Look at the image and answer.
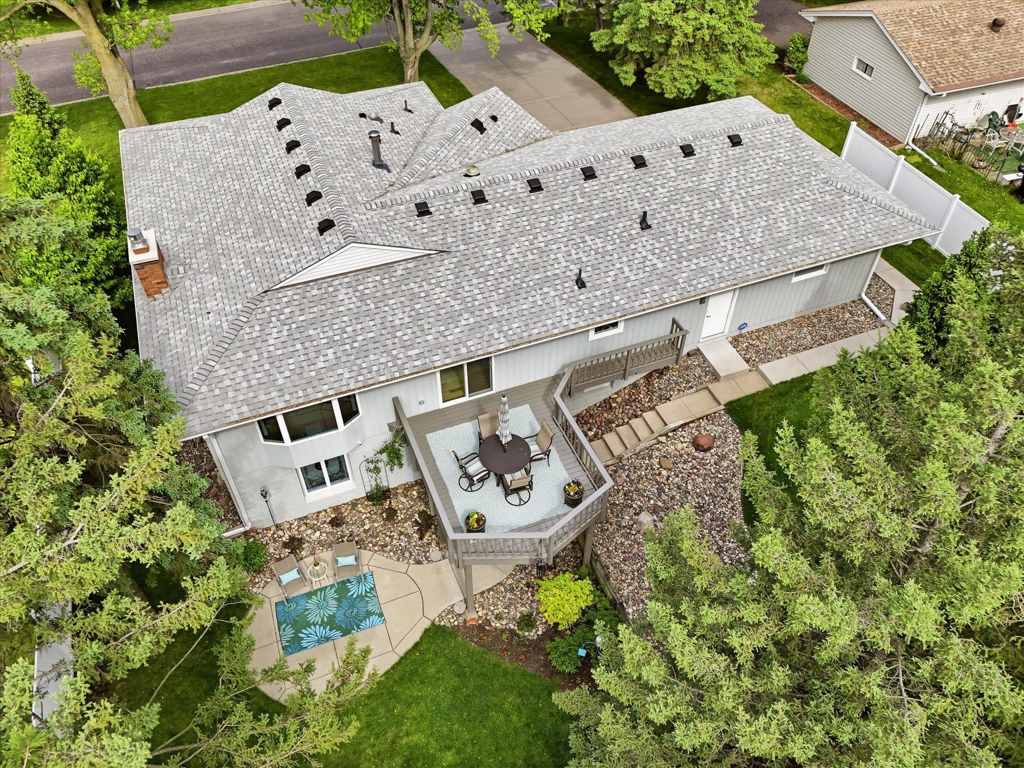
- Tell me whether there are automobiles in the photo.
No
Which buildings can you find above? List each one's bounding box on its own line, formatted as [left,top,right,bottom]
[786,0,1024,167]
[115,80,944,543]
